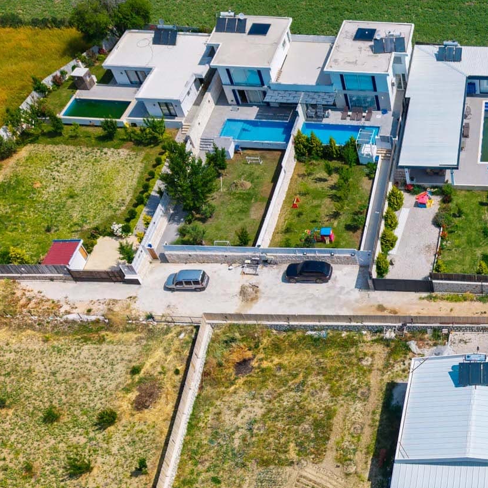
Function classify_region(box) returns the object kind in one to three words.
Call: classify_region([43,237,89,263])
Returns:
shed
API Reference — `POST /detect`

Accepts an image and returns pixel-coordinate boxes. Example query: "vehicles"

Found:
[163,269,212,293]
[284,261,334,284]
